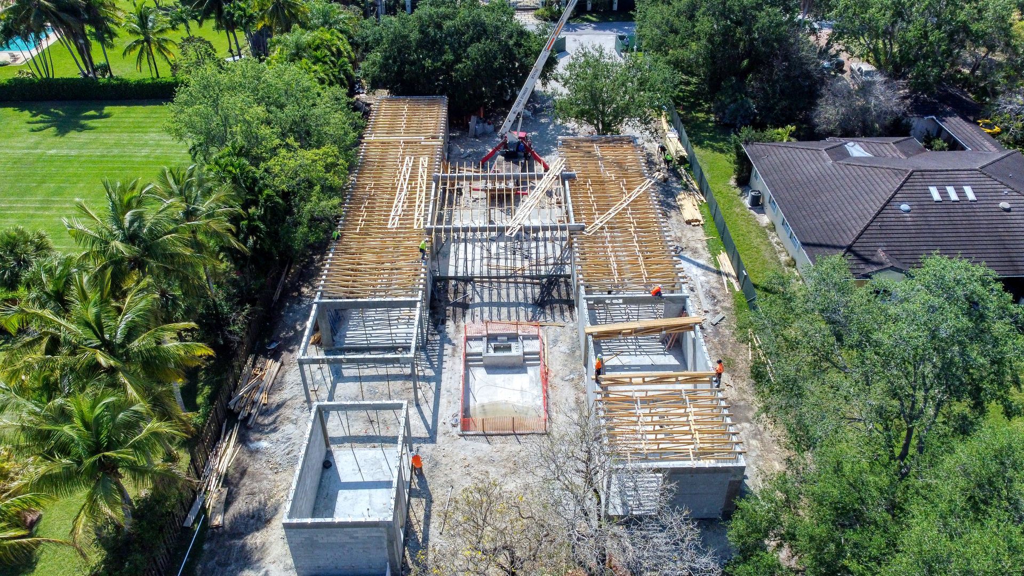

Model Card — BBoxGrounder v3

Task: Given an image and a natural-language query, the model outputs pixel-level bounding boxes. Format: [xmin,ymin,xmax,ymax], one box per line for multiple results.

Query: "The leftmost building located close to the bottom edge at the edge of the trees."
[283,400,413,572]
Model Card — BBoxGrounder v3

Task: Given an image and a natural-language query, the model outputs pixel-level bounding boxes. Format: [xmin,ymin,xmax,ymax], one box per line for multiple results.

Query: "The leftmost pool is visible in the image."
[0,16,60,66]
